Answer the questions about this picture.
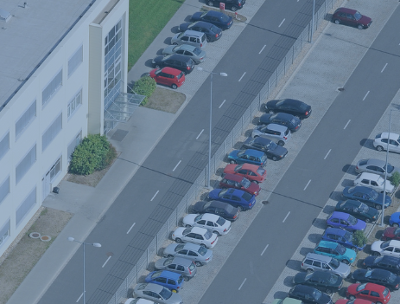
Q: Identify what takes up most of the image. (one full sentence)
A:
The bulk of the photo consists of paved ground.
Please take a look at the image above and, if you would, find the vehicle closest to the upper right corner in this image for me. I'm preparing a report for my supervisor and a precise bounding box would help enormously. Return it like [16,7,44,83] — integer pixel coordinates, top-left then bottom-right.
[332,8,372,30]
